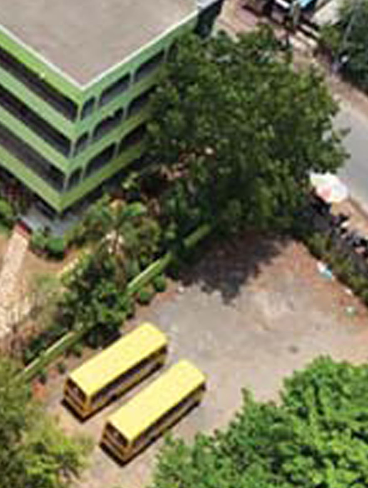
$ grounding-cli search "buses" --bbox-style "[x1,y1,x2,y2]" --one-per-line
[59,323,168,421]
[95,359,208,459]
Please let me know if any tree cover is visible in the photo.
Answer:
Yes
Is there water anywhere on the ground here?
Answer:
No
